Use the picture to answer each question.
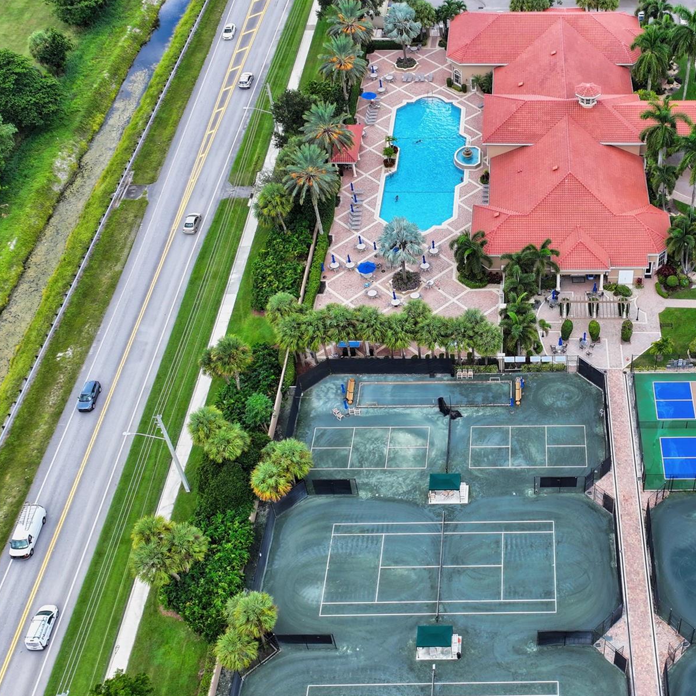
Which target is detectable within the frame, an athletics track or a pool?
pool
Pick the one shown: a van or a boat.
van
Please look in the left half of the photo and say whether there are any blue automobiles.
Yes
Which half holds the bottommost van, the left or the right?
left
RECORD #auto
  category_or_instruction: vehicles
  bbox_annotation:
[222,23,236,39]
[77,378,103,411]
[11,498,47,553]
[182,211,202,234]
[23,603,60,649]
[238,72,255,88]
